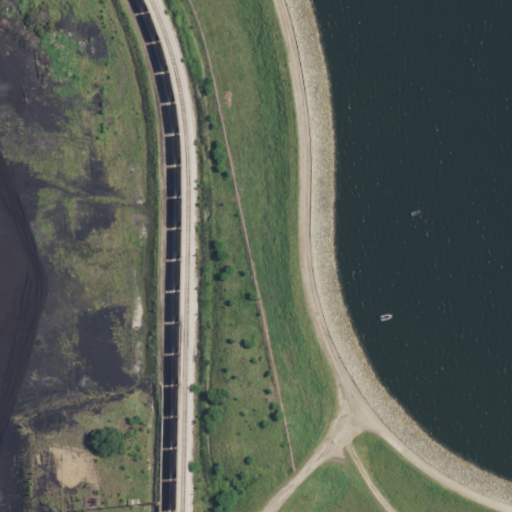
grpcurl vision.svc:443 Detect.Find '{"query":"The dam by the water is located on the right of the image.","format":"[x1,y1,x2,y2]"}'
[226,0,512,512]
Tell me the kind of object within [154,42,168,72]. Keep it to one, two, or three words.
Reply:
rail car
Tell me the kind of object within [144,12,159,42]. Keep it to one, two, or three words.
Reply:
rail car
